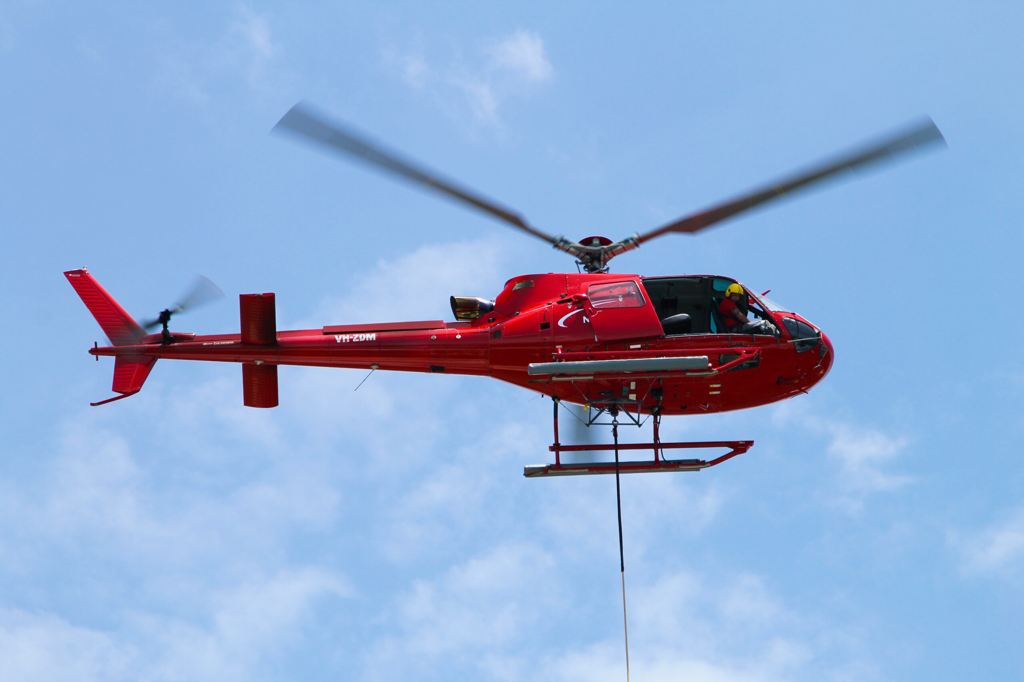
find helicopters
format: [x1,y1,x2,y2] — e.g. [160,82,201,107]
[64,107,942,476]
